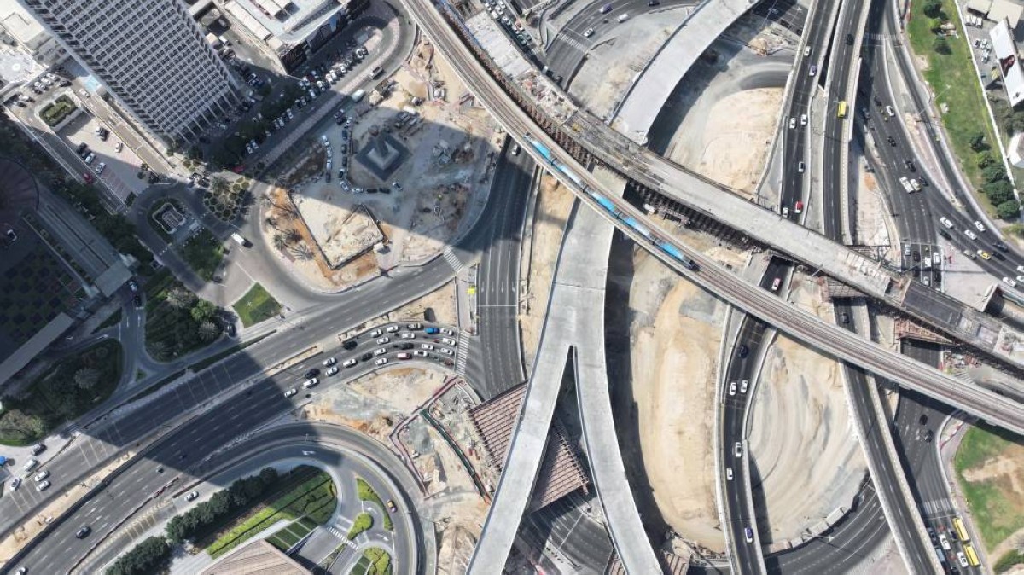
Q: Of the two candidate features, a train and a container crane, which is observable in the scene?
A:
train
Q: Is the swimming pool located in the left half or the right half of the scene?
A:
left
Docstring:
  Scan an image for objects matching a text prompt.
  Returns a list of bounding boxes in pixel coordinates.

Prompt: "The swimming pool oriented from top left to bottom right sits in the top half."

[70,60,108,100]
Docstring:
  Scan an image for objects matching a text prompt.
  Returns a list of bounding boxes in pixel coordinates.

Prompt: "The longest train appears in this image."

[527,137,697,271]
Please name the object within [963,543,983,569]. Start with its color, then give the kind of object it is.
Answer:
yellow bus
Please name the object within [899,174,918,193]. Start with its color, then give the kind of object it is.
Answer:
white vehicle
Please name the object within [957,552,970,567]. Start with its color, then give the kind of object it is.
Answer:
white vehicle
